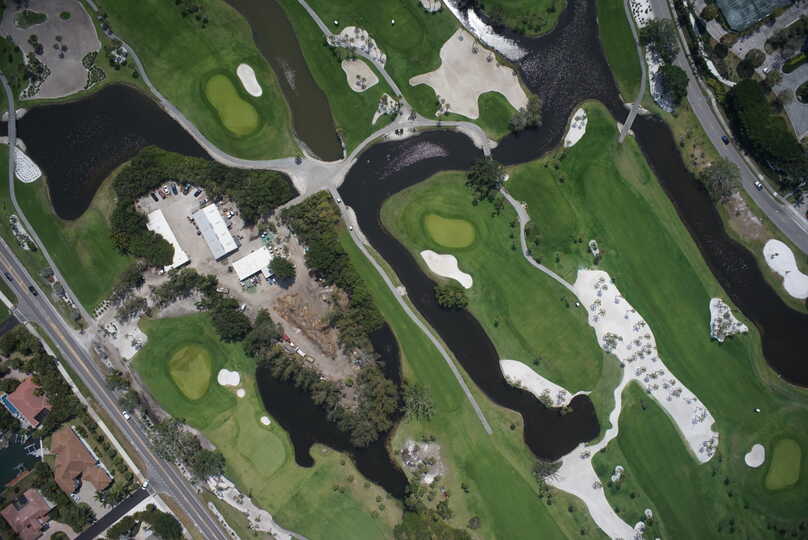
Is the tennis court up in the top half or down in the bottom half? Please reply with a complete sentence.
You can find the tennis court in the top half.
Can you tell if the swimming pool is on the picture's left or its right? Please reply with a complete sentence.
The swimming pool appears in the left half of the scene.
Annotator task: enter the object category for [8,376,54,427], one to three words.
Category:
house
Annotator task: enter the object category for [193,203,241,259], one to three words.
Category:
shed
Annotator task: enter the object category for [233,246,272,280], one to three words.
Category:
shed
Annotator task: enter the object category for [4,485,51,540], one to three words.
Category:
house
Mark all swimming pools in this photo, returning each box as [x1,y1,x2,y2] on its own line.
[0,393,32,427]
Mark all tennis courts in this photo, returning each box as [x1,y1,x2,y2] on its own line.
[720,0,795,32]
